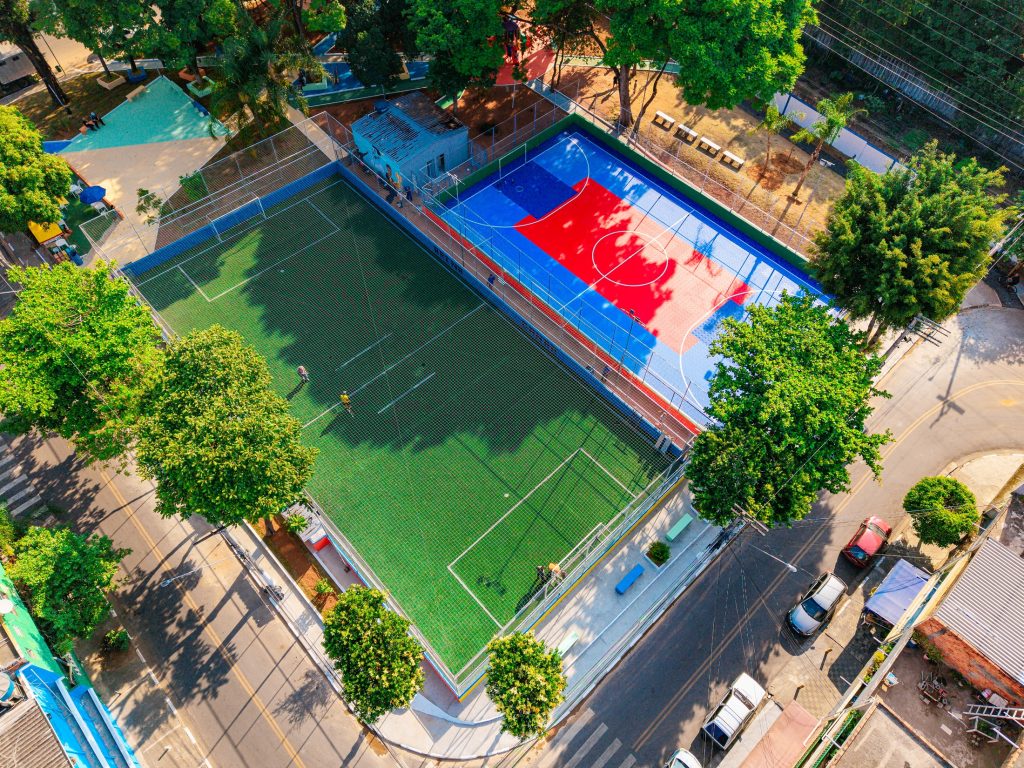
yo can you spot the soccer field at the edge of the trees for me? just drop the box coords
[127,172,680,686]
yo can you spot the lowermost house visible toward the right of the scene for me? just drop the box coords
[828,697,960,768]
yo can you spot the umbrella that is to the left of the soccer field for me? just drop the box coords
[75,185,112,215]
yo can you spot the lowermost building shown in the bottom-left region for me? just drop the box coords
[0,669,144,768]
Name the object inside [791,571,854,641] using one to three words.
car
